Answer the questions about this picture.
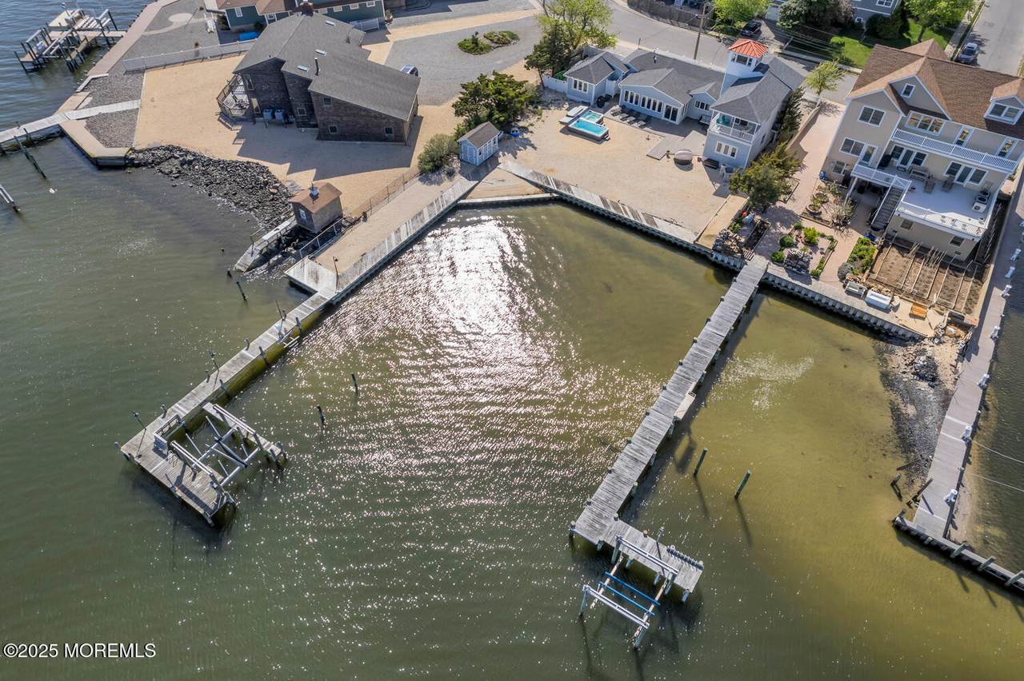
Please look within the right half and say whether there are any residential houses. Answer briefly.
Yes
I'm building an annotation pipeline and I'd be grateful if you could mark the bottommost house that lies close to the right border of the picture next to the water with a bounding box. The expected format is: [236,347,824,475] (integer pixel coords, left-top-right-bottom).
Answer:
[823,39,1024,257]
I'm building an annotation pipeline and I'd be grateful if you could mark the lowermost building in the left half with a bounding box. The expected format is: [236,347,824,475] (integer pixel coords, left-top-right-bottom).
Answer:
[290,184,341,235]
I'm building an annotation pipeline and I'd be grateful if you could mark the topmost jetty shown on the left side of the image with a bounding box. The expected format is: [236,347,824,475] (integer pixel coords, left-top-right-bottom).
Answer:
[14,8,124,73]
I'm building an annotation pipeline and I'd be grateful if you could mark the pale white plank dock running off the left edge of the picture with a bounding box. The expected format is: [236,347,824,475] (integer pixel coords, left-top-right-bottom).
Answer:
[0,100,140,150]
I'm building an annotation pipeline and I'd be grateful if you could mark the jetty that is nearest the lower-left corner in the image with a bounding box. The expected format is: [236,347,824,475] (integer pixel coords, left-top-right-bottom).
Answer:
[112,292,338,534]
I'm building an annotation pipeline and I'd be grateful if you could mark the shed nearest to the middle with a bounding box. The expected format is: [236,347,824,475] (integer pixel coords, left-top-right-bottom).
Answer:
[454,123,503,167]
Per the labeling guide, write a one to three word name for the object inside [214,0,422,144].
house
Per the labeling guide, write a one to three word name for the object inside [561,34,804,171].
house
